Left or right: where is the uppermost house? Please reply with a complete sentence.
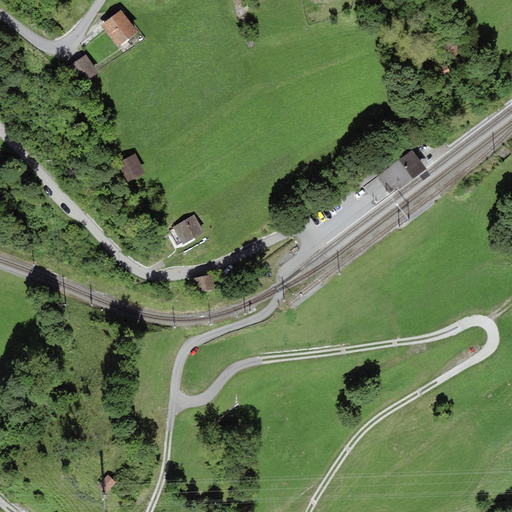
The uppermost house sits on the left side.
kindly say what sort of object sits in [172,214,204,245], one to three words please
house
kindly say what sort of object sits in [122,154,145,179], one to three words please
barn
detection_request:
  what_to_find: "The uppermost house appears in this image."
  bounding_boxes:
[102,10,138,47]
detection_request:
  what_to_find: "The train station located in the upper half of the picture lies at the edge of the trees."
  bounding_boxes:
[303,99,512,272]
